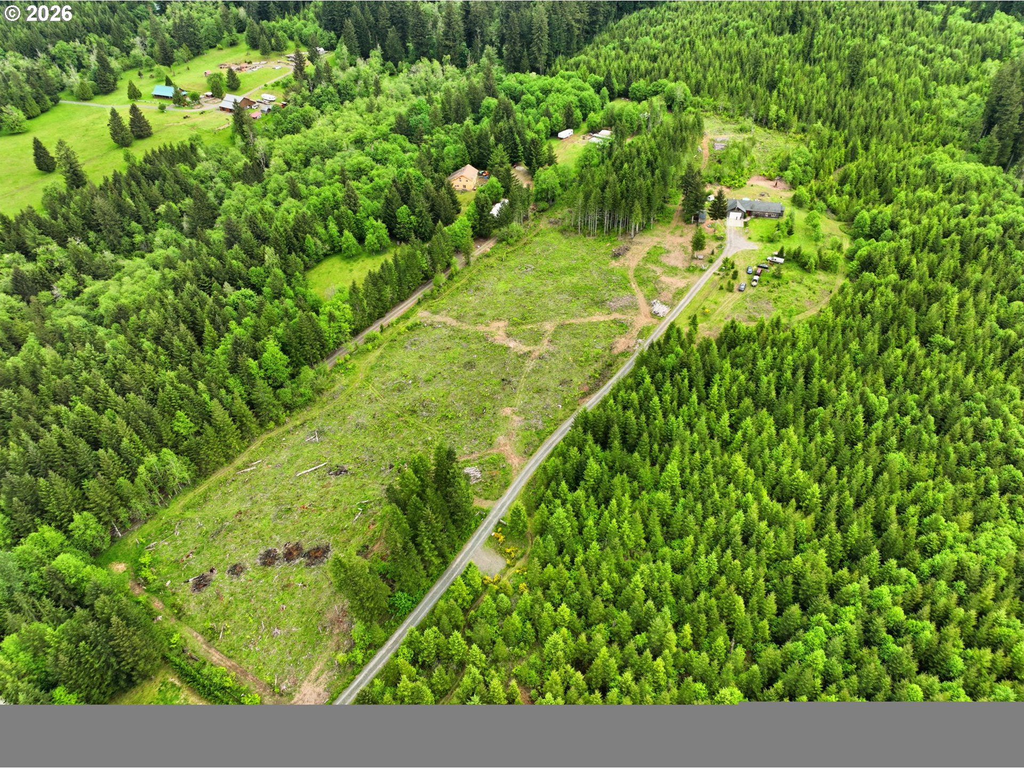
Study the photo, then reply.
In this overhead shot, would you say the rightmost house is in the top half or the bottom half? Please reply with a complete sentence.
It is in the top half that the rightmost house appears.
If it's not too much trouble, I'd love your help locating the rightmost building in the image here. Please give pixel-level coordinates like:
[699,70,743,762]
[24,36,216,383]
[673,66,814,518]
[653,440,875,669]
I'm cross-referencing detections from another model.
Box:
[726,199,788,223]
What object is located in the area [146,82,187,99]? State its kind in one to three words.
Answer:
house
